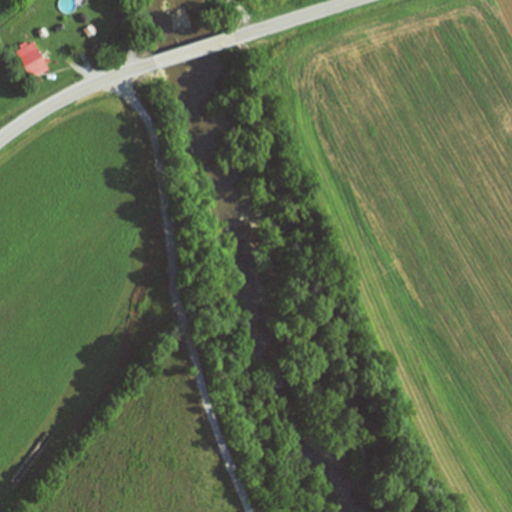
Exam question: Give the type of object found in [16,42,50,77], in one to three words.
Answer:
house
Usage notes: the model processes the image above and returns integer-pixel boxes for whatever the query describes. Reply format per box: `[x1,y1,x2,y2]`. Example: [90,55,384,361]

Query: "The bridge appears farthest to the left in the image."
[150,32,236,70]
